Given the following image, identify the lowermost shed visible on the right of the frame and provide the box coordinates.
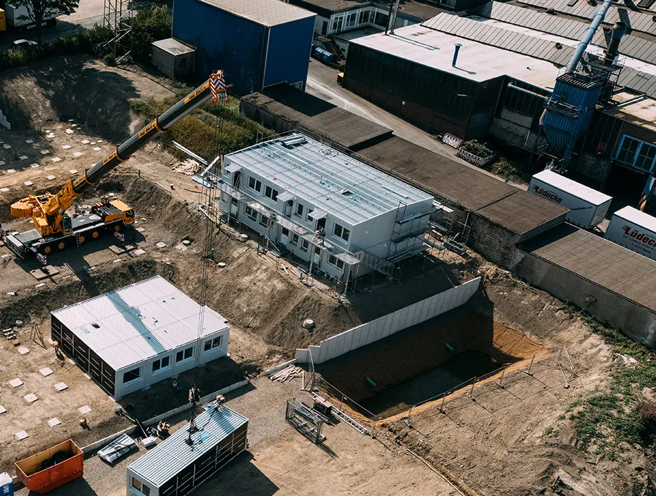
[514,222,656,335]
